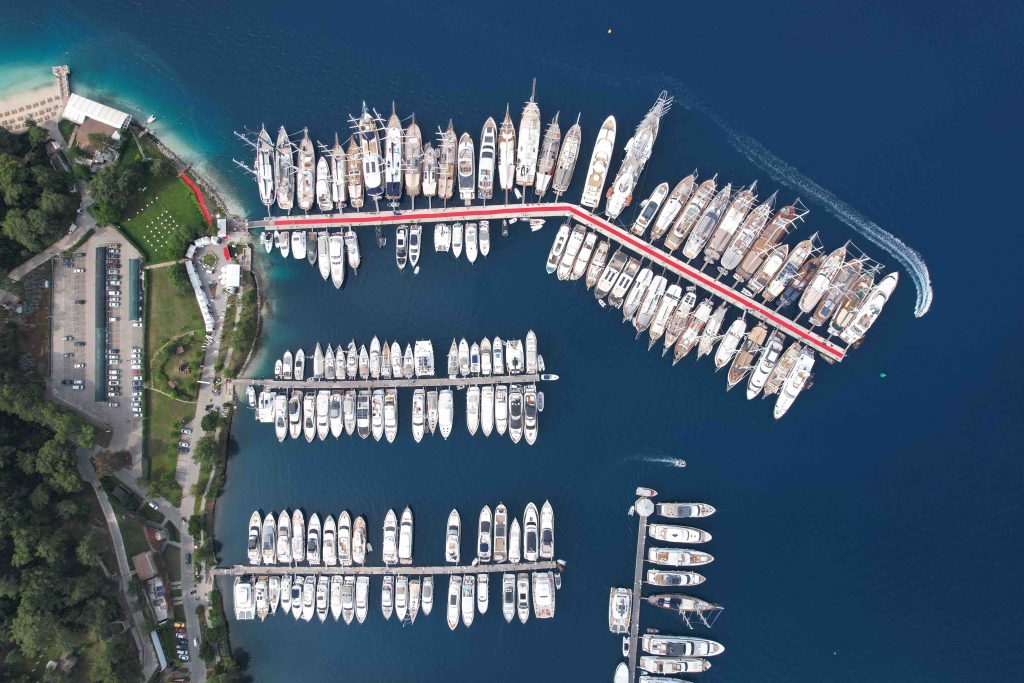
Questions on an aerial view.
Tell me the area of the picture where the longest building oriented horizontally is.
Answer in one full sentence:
You can find the longest building oriented horizontally in the top left area of the picture.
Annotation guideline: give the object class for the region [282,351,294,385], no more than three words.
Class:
boat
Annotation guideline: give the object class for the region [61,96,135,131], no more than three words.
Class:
building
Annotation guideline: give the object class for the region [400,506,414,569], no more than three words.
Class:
boat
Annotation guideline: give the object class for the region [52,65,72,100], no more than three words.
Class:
pier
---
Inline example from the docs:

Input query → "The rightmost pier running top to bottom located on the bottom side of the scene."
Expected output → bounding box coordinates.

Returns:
[629,496,654,683]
